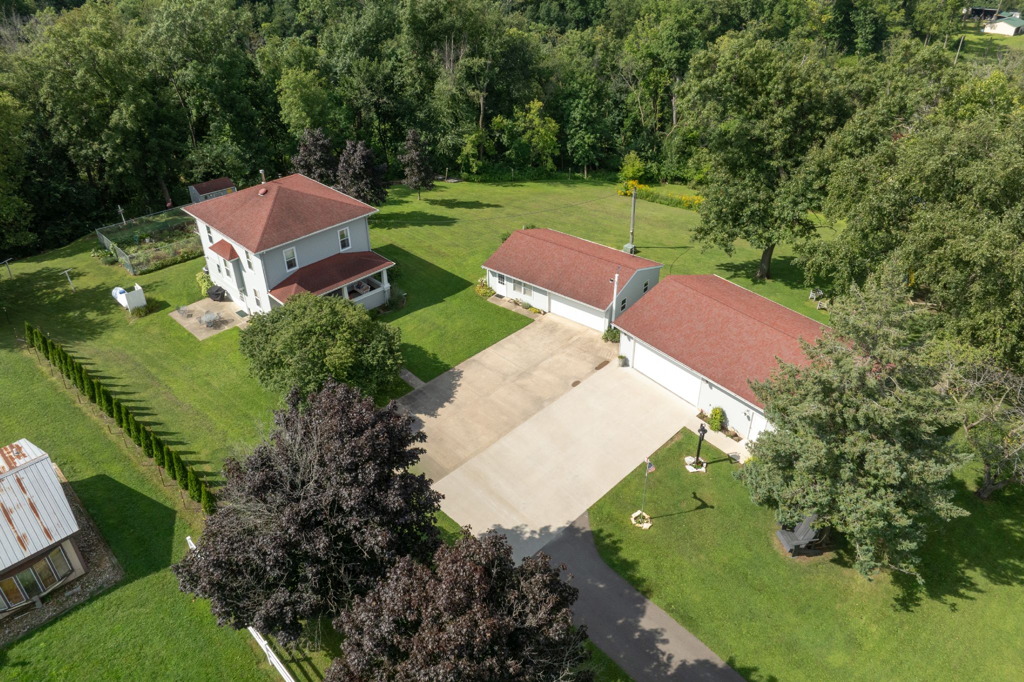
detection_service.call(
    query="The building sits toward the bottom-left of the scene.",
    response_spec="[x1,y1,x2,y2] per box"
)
[0,438,88,623]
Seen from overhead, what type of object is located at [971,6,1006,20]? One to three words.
shed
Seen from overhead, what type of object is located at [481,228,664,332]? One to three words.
building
